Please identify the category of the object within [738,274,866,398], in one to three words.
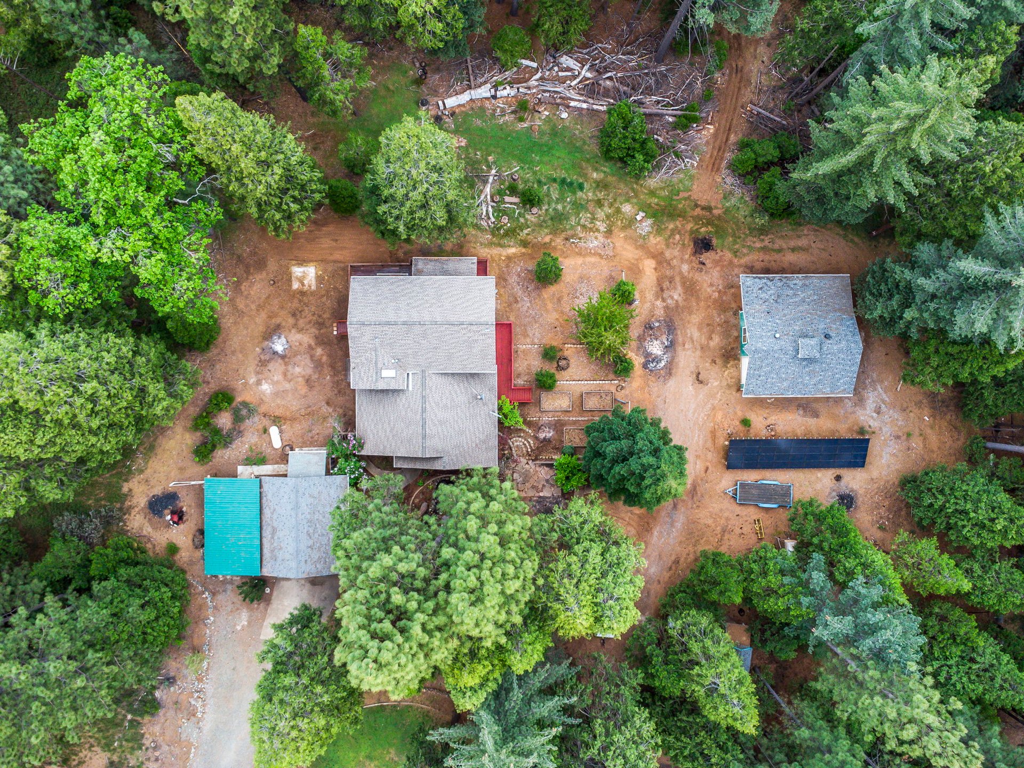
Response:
barn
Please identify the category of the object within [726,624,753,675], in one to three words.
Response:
shed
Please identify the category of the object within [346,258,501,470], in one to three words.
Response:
house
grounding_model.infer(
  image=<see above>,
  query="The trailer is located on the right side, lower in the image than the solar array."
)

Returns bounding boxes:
[726,480,794,510]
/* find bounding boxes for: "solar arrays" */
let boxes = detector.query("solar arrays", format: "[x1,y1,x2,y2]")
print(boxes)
[727,437,870,470]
